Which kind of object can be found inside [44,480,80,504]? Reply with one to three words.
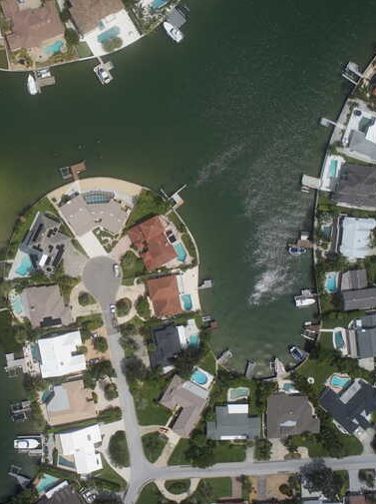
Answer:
house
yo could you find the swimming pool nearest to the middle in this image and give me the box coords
[173,243,188,263]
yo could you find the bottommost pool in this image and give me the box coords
[36,474,60,495]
